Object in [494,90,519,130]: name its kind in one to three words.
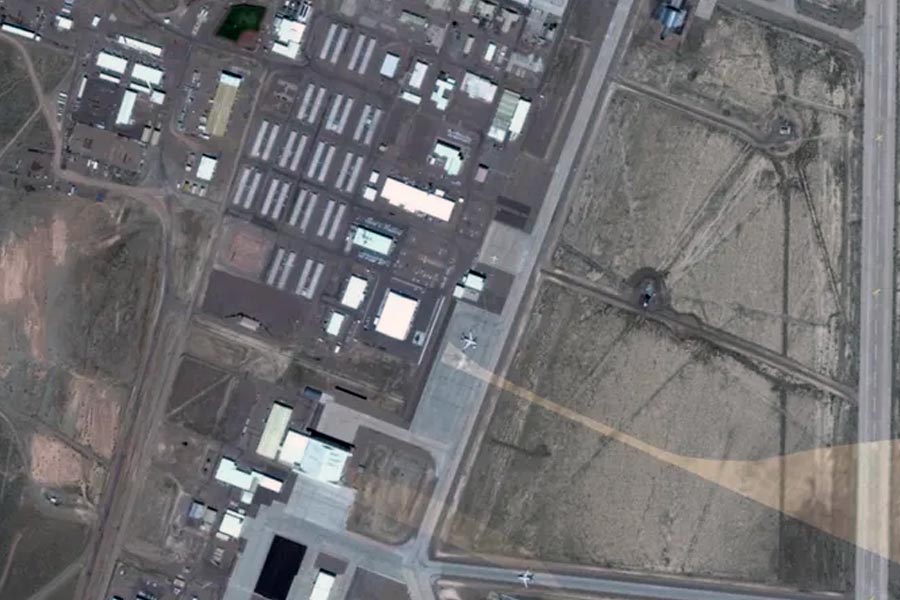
hangar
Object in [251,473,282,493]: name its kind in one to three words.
building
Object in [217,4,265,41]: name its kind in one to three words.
sports field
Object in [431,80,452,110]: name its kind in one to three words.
building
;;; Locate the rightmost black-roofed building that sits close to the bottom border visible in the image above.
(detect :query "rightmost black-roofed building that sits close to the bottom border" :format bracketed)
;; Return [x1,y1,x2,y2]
[255,535,308,600]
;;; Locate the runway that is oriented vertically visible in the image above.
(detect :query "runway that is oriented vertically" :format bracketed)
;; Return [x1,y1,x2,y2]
[856,0,898,600]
